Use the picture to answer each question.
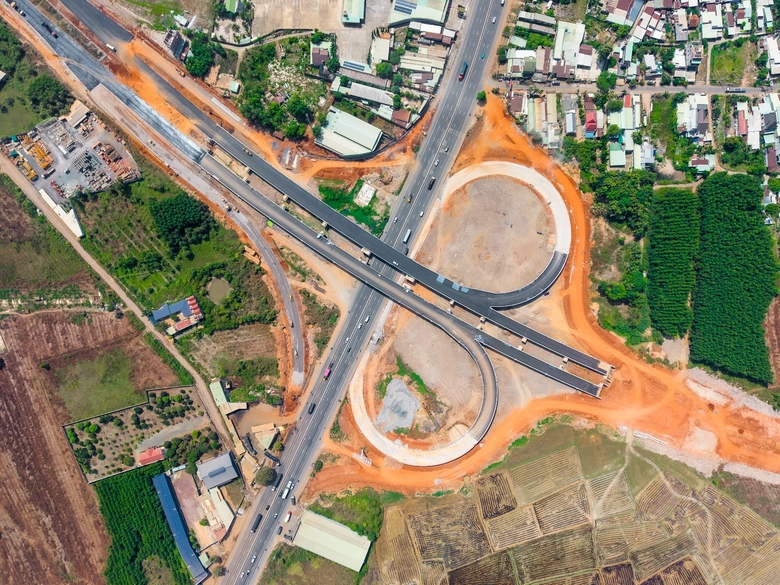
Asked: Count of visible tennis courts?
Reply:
zero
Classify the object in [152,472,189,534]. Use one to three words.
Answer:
shed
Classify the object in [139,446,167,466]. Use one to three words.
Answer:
house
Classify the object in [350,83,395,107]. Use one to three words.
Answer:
building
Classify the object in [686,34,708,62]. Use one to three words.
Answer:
building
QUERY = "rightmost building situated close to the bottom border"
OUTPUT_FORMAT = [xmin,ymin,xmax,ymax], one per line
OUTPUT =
[293,507,372,571]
